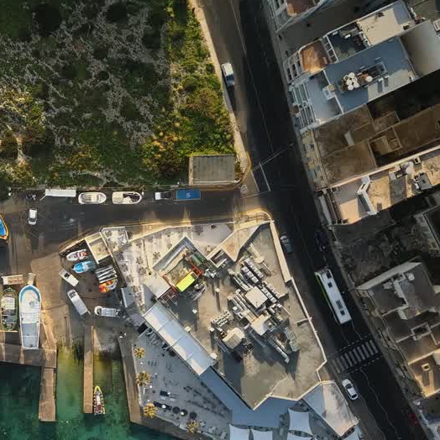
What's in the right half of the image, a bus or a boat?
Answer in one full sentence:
Visible in the right half of the image is a bus.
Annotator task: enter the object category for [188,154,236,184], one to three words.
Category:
building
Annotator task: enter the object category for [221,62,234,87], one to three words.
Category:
vehicle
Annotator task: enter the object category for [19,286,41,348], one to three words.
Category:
boat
